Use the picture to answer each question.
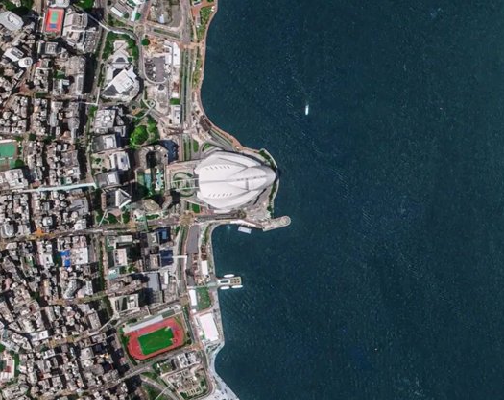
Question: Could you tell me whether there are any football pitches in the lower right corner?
No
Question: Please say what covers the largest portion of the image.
water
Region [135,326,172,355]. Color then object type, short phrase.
green soccer field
